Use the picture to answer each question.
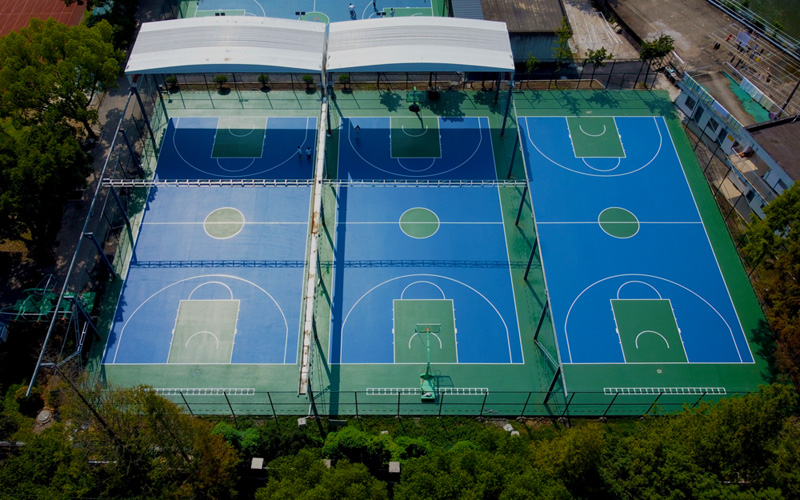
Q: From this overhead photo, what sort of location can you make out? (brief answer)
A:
sports ground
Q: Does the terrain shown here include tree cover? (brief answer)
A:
Yes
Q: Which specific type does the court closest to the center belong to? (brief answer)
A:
basketball court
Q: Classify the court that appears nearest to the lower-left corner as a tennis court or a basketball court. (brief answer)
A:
basketball court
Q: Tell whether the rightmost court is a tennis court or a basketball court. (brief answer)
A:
basketball court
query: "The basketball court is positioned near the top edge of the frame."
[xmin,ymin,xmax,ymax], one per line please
[195,0,432,26]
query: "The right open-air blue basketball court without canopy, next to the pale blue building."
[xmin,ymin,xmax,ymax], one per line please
[518,116,754,394]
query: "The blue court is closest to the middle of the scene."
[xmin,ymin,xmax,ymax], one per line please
[328,116,523,395]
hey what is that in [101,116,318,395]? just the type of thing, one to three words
basketball court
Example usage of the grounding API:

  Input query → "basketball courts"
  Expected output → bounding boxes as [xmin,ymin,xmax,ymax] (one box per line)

[518,116,754,394]
[101,116,318,395]
[195,0,432,26]
[328,116,523,395]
